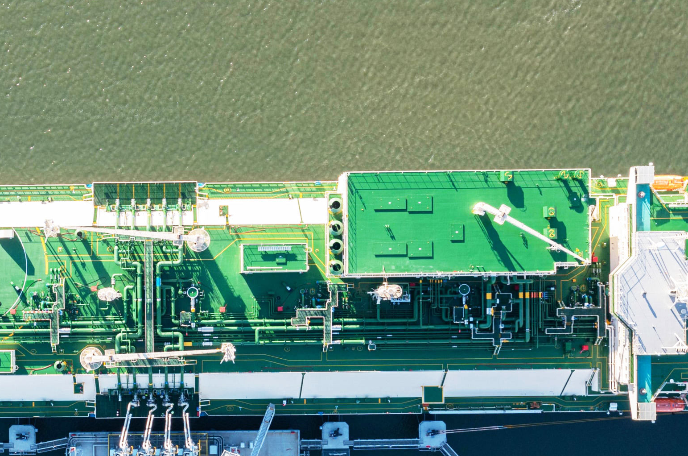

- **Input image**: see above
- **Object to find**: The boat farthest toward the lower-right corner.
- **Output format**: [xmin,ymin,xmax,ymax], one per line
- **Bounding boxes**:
[653,395,688,411]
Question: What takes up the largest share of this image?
water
